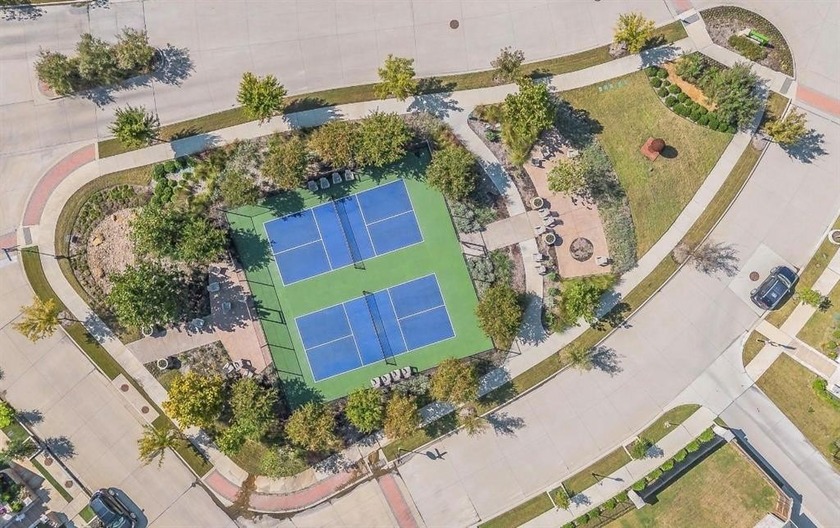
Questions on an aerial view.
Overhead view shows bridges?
No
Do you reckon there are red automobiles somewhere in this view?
No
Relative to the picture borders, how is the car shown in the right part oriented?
at an angle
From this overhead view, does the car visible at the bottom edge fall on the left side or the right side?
left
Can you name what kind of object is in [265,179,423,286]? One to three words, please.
sports court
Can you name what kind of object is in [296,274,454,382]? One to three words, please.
sports court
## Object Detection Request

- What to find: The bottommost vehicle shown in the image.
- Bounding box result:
[87,489,135,528]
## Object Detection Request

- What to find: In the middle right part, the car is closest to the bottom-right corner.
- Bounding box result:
[751,263,799,313]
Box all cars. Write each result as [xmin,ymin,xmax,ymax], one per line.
[751,263,799,313]
[87,489,135,528]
